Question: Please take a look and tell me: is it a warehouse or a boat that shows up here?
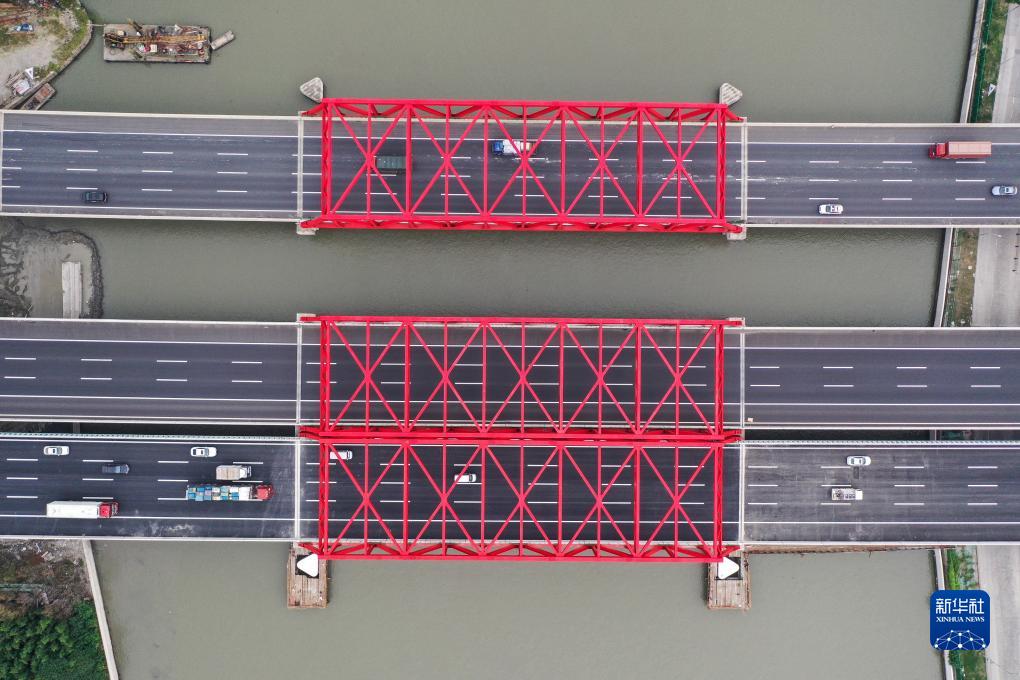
boat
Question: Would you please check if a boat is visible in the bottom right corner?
No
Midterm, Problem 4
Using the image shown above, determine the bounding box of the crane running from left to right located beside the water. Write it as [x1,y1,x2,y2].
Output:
[104,29,206,52]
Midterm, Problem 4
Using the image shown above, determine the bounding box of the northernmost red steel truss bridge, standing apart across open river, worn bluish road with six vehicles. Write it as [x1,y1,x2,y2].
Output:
[0,99,1020,241]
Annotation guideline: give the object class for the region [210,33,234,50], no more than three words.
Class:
boat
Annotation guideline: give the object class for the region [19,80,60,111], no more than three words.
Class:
boat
